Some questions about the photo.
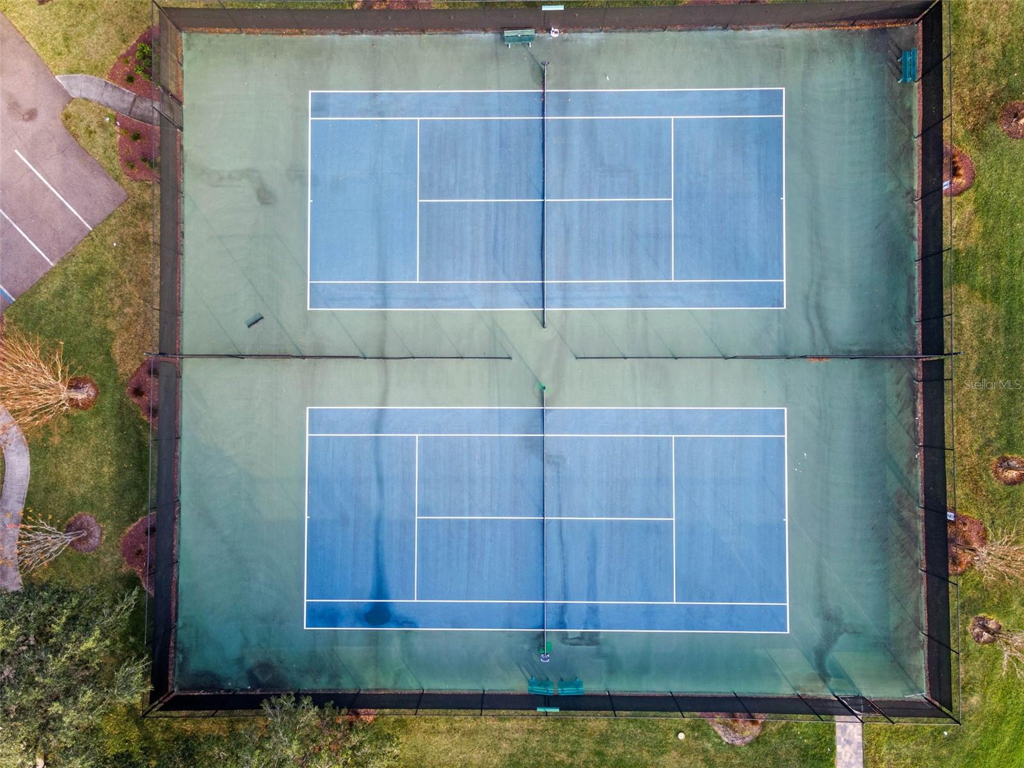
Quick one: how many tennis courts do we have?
two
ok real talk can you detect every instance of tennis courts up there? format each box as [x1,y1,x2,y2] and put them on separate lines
[306,408,788,632]
[308,89,786,309]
